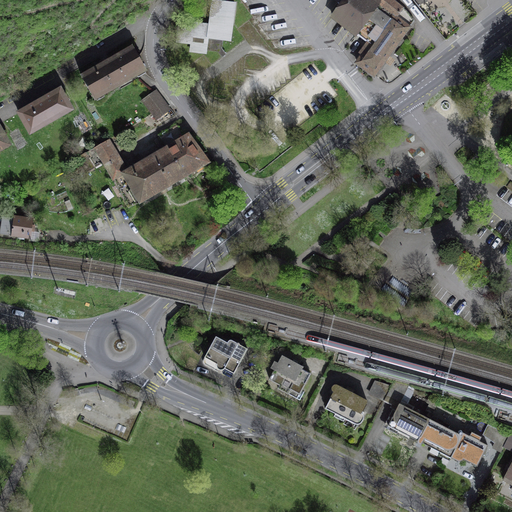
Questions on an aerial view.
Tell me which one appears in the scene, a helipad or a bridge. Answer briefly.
bridge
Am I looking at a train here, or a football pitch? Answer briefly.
train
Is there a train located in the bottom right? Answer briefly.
Yes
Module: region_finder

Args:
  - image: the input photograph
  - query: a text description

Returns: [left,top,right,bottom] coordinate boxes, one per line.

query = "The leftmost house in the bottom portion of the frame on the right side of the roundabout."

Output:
[204,336,248,377]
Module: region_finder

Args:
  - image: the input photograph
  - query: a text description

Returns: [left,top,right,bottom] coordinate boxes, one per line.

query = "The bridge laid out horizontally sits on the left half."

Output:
[136,266,226,308]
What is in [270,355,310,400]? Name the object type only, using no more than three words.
house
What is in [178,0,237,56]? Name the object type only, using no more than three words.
building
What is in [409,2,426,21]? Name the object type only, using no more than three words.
vehicle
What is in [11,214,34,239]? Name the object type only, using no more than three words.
house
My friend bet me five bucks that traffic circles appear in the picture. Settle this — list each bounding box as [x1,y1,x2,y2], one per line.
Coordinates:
[84,308,156,381]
